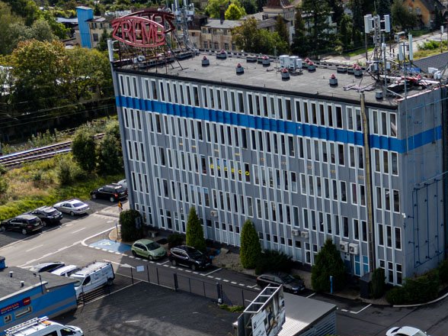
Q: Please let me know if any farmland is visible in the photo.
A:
No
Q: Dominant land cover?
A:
buildings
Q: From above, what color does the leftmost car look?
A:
black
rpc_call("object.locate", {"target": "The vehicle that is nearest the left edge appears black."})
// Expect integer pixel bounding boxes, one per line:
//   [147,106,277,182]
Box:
[0,211,42,234]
